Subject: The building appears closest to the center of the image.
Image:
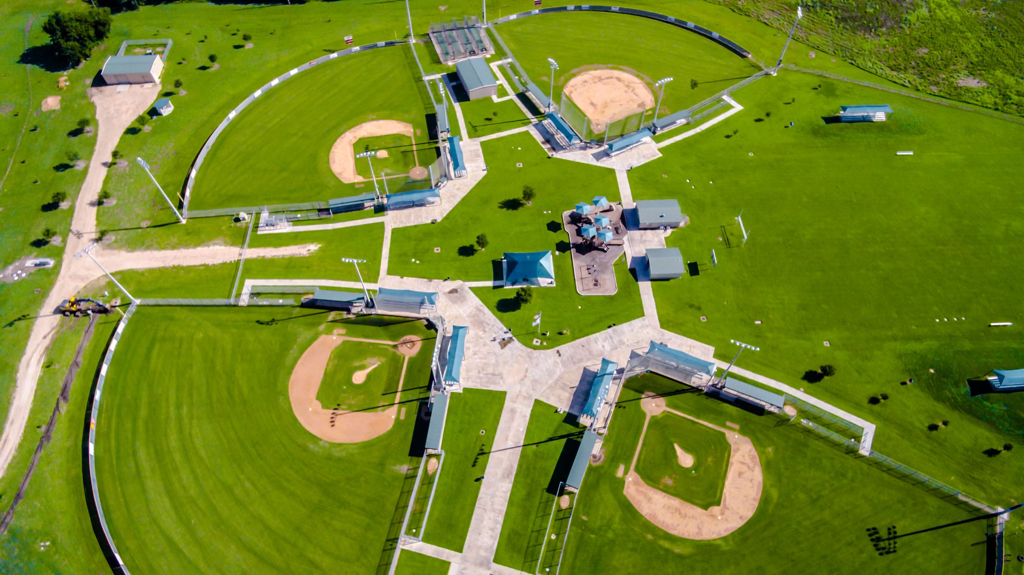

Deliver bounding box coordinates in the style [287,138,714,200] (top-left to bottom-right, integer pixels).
[502,250,555,289]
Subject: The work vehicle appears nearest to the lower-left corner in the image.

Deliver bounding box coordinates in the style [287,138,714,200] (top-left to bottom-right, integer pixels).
[50,295,104,314]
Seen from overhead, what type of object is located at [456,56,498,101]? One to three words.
building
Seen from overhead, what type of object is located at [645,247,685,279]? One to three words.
shed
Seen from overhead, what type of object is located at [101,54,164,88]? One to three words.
barn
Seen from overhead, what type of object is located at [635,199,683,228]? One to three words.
shed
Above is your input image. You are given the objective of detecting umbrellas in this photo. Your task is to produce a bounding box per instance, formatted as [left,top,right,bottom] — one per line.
[594,216,609,231]
[581,227,596,240]
[593,197,607,212]
[575,203,590,219]
[598,231,613,246]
